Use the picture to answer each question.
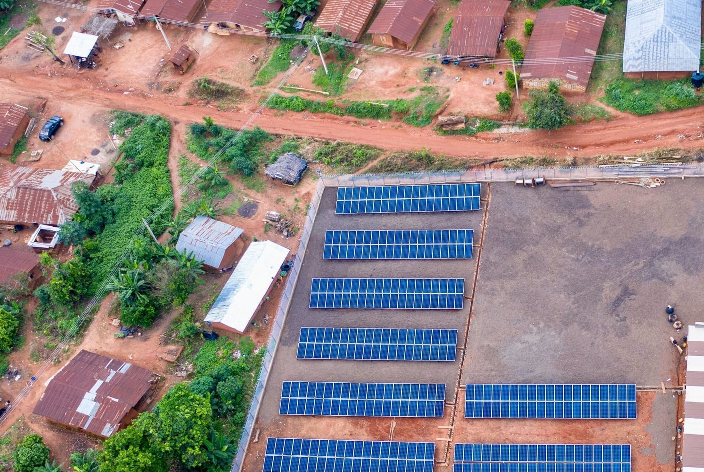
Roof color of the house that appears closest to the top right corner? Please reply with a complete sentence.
The roof of the house that appears closest to the top right corner is white.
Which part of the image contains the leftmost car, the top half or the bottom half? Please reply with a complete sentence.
You can find the leftmost car in the top half.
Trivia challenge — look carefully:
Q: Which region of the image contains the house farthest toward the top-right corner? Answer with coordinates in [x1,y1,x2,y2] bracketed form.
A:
[623,0,699,86]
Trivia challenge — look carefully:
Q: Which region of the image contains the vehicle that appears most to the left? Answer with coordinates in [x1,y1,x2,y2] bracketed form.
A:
[38,116,61,140]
